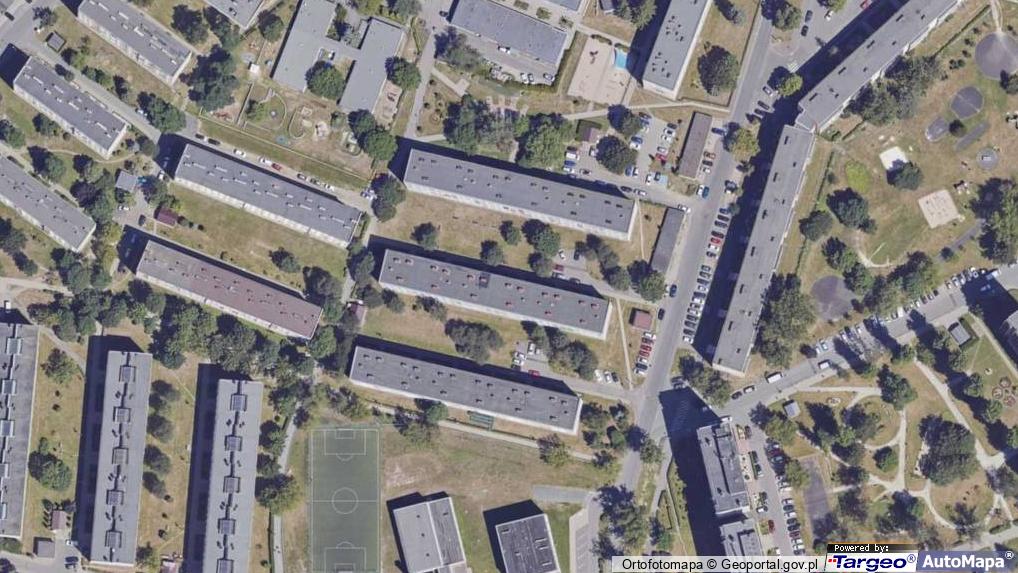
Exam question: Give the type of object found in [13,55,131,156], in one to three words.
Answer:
building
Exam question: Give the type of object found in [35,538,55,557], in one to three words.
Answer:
shed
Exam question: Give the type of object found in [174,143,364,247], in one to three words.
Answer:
building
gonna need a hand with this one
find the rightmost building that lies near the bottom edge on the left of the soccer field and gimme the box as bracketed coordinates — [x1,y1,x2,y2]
[202,376,267,573]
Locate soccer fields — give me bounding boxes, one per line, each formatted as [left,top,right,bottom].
[306,423,381,573]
